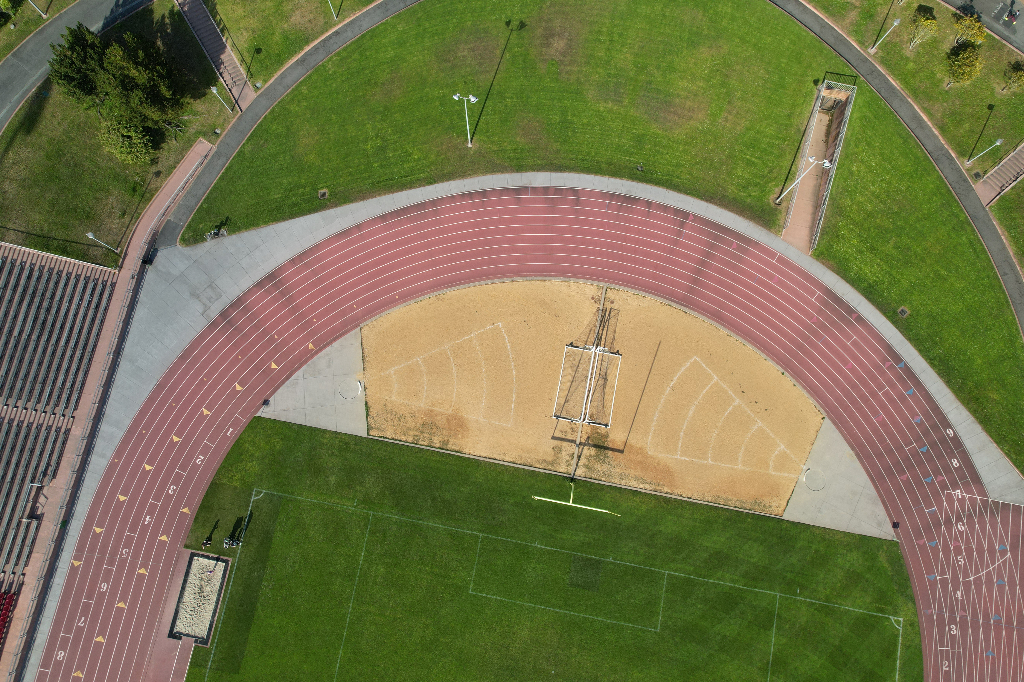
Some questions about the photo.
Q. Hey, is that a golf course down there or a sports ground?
sports ground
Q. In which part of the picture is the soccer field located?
bottom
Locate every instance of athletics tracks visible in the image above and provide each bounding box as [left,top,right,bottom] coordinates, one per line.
[32,183,1024,682]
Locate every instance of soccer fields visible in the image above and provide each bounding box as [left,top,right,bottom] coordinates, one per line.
[184,414,923,682]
